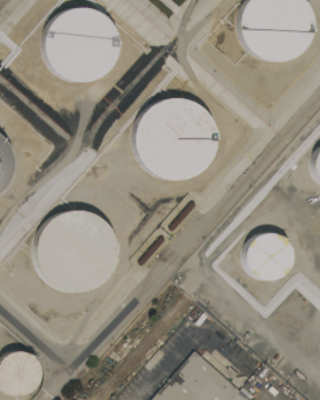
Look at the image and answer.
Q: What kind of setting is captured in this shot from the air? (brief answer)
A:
industrial area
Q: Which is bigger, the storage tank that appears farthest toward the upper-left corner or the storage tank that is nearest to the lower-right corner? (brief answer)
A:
the storage tank that appears farthest toward the upper-left corner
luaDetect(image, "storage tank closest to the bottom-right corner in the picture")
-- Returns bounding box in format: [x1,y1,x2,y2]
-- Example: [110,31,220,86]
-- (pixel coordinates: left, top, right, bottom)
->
[240,232,294,282]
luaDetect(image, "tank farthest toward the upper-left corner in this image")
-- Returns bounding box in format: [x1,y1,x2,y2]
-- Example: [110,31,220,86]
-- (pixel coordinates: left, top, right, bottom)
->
[40,7,120,85]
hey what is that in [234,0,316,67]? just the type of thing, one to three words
storage tank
